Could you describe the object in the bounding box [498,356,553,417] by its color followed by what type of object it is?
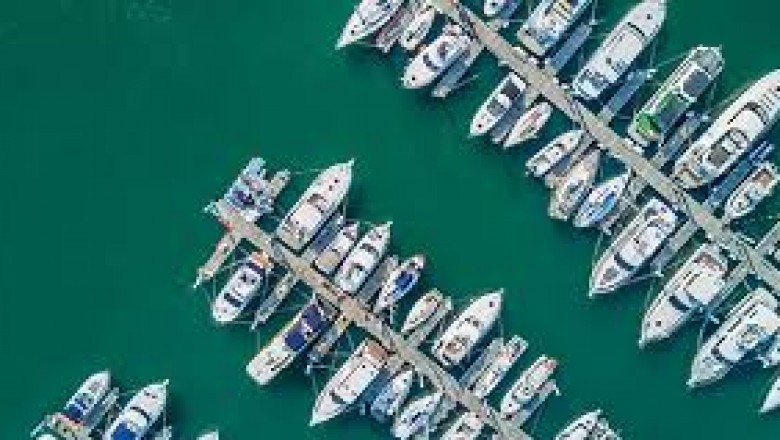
white boat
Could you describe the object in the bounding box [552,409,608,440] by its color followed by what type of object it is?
white boat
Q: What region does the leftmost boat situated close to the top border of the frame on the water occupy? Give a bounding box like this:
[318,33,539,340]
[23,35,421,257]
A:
[335,0,411,47]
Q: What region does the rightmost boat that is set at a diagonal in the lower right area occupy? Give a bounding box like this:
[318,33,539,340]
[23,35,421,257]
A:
[690,283,780,387]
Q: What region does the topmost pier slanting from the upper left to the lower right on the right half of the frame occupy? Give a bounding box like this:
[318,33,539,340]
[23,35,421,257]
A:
[422,0,780,293]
